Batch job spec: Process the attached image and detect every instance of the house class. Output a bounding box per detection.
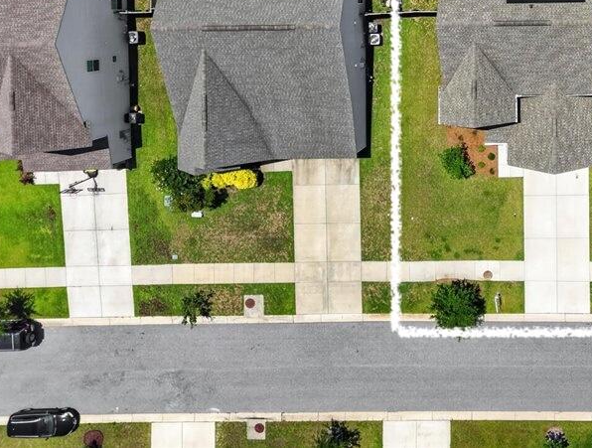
[0,0,131,170]
[437,0,592,169]
[156,0,366,175]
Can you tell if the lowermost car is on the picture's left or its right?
left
